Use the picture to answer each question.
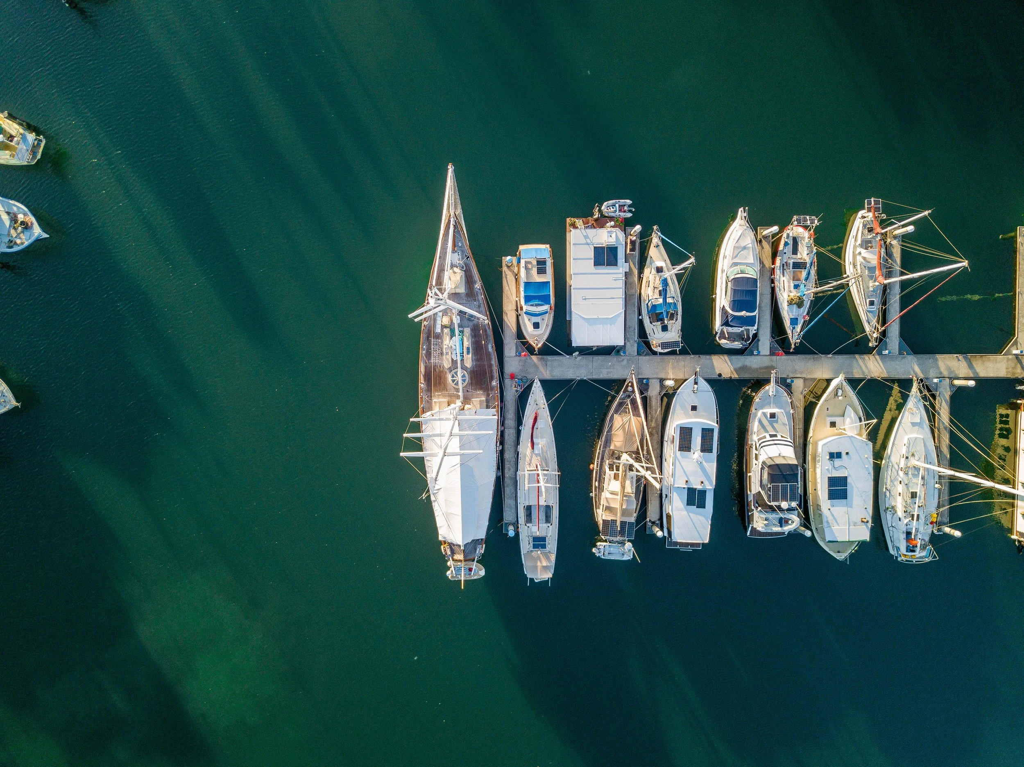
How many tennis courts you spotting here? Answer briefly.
0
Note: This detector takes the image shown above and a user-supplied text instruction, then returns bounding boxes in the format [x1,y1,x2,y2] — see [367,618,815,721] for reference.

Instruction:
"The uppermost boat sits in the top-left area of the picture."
[0,112,48,165]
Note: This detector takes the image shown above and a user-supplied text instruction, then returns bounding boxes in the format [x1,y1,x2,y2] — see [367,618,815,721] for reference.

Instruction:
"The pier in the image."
[503,226,1024,534]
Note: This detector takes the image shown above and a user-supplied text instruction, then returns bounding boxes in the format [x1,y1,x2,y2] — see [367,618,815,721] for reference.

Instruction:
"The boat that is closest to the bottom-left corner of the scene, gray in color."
[0,374,22,414]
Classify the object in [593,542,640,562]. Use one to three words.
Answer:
boat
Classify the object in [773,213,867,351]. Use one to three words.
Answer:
boat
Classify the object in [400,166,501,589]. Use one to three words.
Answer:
vessel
